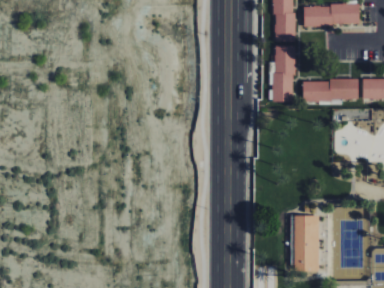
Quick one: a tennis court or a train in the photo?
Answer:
tennis court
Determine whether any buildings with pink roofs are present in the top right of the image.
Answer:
Yes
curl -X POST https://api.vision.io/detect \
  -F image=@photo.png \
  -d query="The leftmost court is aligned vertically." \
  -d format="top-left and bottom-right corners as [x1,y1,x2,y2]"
[335,207,370,280]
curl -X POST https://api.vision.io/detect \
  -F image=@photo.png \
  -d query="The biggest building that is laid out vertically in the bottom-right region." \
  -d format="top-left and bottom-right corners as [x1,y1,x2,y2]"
[295,216,320,272]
